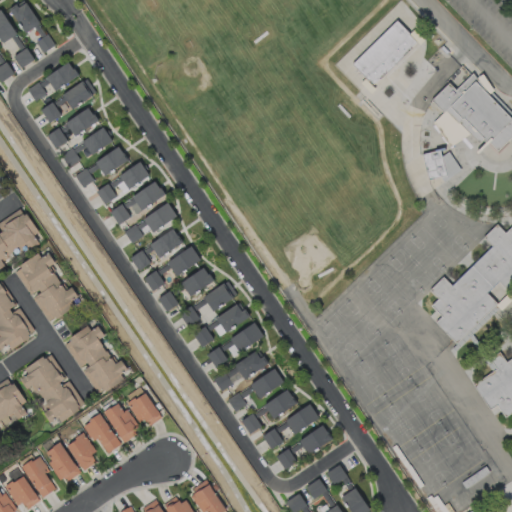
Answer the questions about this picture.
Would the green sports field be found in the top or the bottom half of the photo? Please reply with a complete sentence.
The green sports field is in the top half of the image.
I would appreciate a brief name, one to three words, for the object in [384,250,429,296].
basketball court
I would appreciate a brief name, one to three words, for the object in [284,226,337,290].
baseball field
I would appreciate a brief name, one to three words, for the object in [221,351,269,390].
house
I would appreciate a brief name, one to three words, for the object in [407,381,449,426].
basketball court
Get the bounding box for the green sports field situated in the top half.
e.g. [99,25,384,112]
[86,0,434,316]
